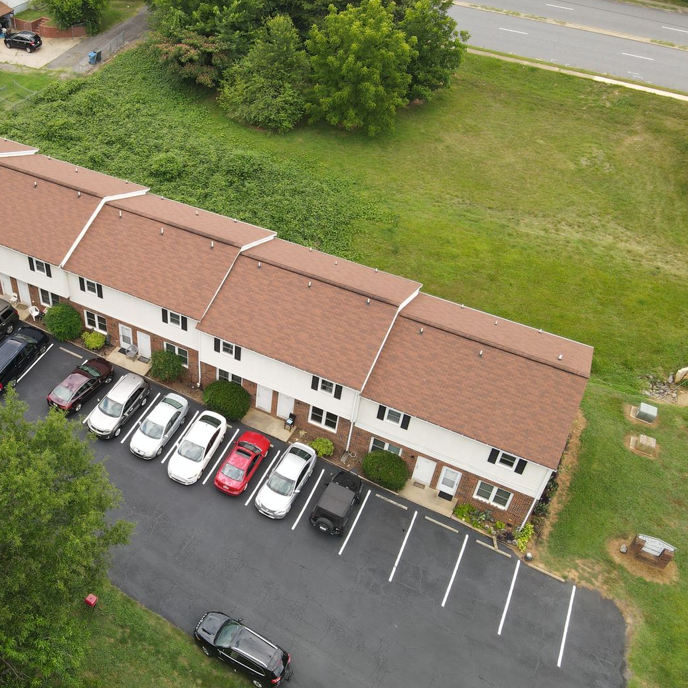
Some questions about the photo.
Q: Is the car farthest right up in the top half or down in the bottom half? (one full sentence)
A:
The bottom half of the photo is where the car farthest right is.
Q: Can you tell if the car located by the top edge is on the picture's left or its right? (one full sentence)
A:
It is on the left.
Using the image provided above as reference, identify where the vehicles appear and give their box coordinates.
[47,356,115,419]
[128,393,190,463]
[0,323,52,390]
[85,371,152,442]
[310,469,366,543]
[0,302,20,338]
[213,428,272,498]
[255,443,320,523]
[167,410,229,487]
[1,29,44,53]
[189,606,296,688]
